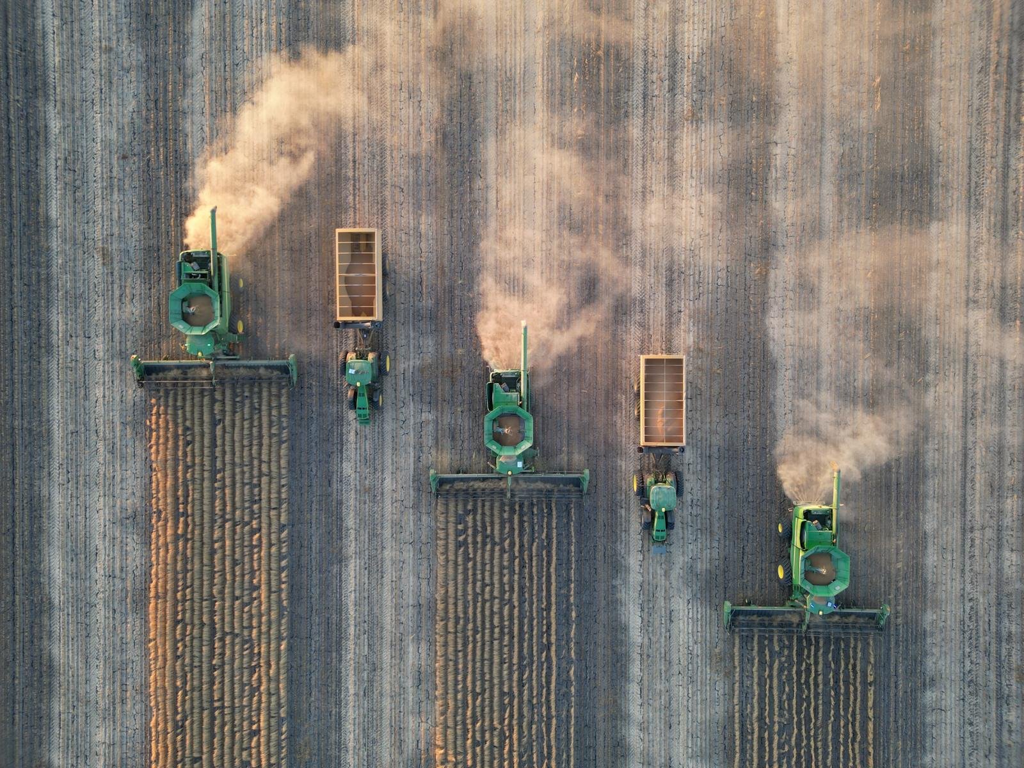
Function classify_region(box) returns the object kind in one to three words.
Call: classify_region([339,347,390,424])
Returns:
work vehicle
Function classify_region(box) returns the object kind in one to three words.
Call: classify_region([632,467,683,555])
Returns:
work vehicle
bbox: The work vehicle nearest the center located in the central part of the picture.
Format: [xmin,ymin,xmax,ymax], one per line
[430,321,589,507]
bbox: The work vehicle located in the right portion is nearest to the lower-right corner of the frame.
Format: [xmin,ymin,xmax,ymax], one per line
[726,458,889,635]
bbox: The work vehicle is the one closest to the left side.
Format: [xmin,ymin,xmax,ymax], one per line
[131,200,295,392]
